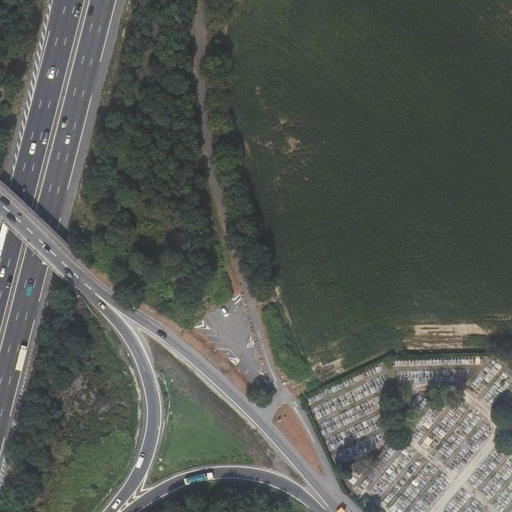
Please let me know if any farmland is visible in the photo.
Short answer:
Yes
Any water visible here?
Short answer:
No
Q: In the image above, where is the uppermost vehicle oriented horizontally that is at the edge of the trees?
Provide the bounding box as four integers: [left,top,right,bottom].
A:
[184,473,214,485]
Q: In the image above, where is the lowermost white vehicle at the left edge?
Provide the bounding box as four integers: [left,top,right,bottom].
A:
[14,344,28,372]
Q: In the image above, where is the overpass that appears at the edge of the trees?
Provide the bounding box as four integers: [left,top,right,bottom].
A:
[0,180,92,294]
